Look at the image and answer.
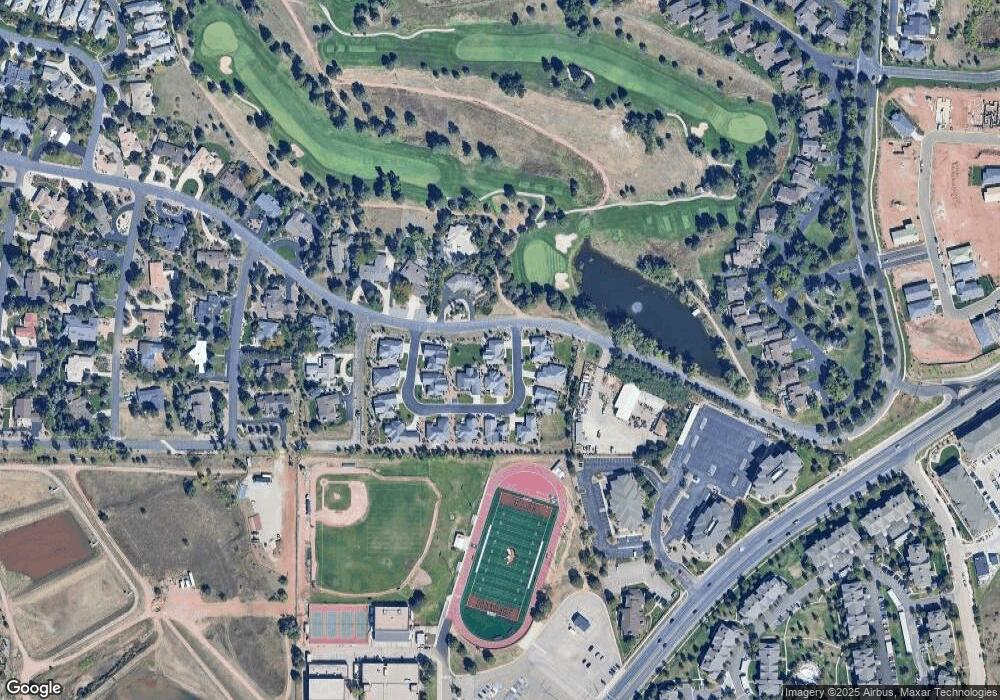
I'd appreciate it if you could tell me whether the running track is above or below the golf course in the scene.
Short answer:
below it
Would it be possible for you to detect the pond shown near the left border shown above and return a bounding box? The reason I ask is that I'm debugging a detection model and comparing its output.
[0,512,94,580]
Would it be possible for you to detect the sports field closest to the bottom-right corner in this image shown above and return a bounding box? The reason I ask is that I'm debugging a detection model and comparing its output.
[463,488,557,638]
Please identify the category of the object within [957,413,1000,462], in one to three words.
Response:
building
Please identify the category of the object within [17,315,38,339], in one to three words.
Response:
house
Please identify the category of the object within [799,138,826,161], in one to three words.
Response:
house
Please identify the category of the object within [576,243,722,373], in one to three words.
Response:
pond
